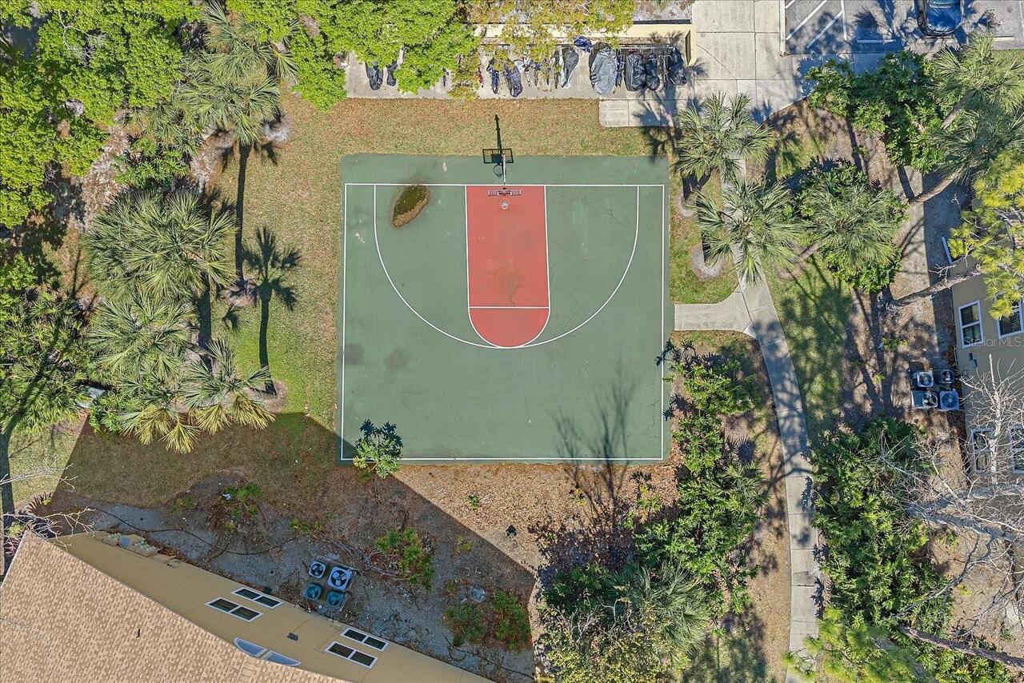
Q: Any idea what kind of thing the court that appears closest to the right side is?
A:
basketball court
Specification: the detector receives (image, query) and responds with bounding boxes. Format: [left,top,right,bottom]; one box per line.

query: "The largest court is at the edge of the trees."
[336,154,671,466]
